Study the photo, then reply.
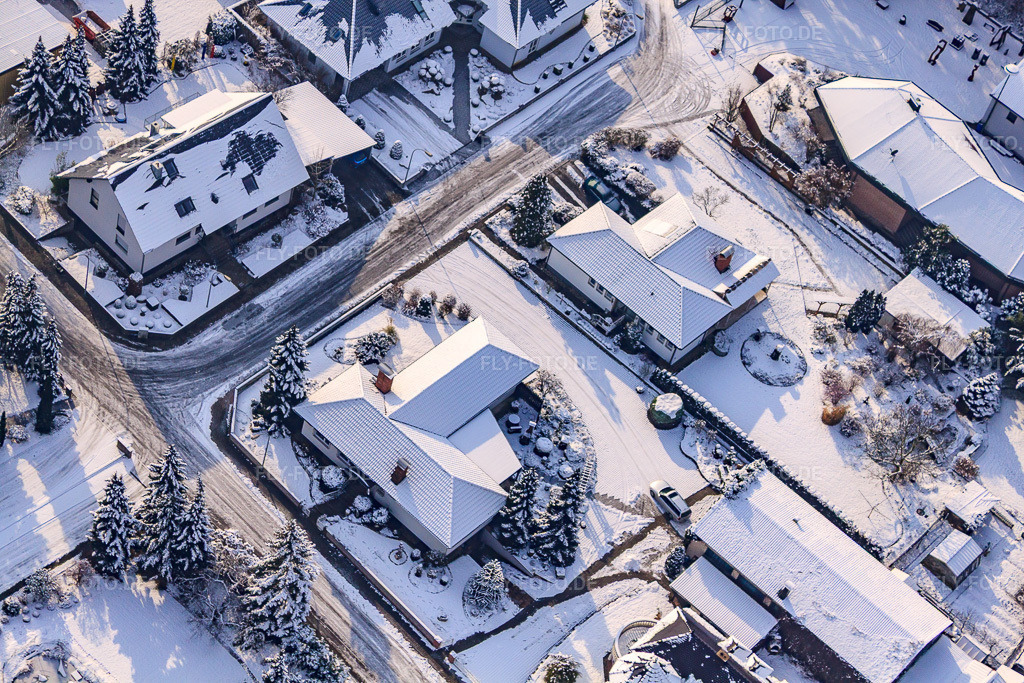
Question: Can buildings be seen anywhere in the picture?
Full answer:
Yes, there is a building in the image.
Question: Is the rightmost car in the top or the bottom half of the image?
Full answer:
It is in the bottom half that the rightmost car appears.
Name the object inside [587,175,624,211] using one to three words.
car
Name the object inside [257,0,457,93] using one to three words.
house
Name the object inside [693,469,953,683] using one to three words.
building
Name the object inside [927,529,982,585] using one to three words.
shed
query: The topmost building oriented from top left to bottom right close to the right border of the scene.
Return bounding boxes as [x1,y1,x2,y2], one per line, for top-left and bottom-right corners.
[815,76,1024,302]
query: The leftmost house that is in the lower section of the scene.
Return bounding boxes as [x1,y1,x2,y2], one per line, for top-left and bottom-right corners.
[294,316,538,554]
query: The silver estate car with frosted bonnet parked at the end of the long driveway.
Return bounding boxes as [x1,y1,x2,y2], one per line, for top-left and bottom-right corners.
[650,474,693,520]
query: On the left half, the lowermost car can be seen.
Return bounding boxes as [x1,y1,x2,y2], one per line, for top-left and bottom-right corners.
[346,149,368,164]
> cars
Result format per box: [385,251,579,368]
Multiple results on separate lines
[346,149,368,164]
[650,474,693,520]
[587,175,624,211]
